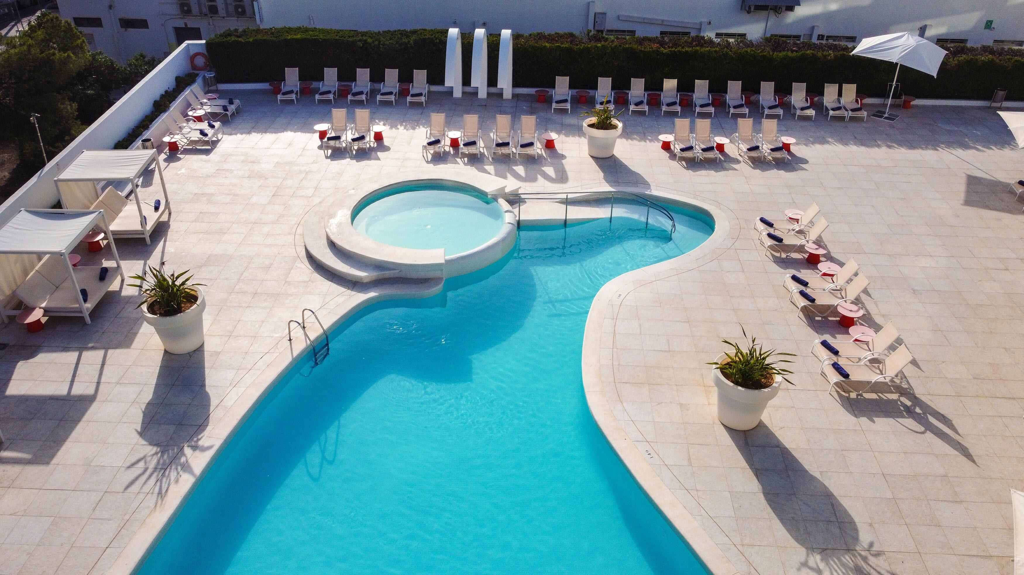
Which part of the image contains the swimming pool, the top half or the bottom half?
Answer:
bottom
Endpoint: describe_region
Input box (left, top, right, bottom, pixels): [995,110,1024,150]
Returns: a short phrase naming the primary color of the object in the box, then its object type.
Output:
white umbrella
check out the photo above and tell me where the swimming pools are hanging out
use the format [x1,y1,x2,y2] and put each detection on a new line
[128,191,714,575]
